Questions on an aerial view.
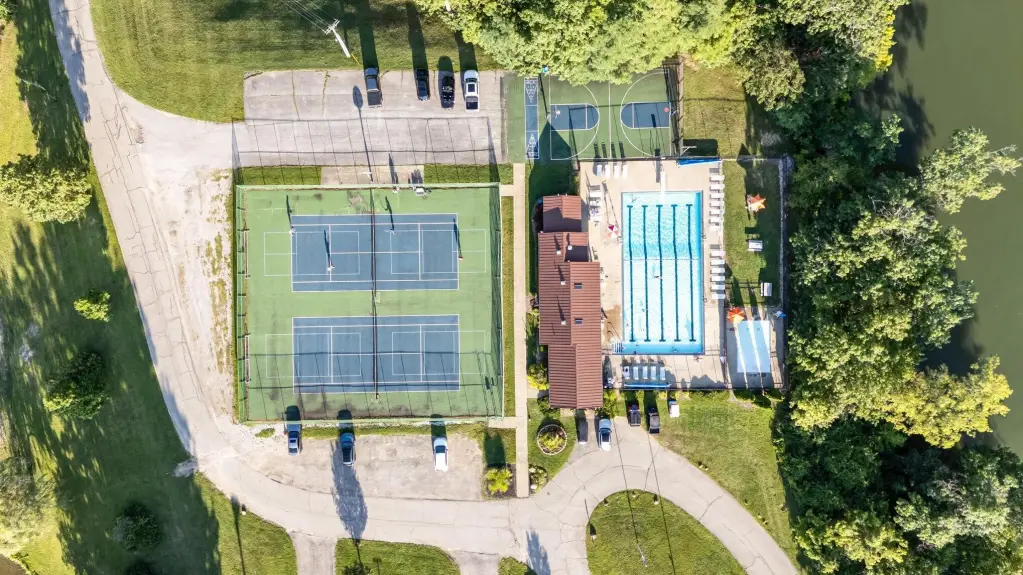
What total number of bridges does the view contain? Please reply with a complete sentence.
The photo contains no bridges.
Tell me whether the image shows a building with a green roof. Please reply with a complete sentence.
No, there appears to be no building with a green roof in this shot.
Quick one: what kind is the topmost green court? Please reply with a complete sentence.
It looks like the topmost green court is a basketball court.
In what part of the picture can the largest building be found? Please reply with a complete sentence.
The largest building appears toward the center of the photo.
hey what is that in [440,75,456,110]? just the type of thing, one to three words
car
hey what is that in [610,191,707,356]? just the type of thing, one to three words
swimming pool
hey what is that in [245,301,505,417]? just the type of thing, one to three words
tennis court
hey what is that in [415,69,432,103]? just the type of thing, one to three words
car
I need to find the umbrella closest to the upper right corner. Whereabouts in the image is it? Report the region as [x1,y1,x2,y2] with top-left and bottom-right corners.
[746,195,766,215]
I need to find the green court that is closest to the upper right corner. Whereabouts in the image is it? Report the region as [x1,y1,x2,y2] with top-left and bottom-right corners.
[507,66,680,160]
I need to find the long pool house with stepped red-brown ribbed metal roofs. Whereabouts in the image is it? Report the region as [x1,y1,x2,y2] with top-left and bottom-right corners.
[537,194,603,411]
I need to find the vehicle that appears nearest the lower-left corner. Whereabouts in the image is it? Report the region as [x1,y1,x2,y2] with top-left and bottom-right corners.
[286,422,303,455]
